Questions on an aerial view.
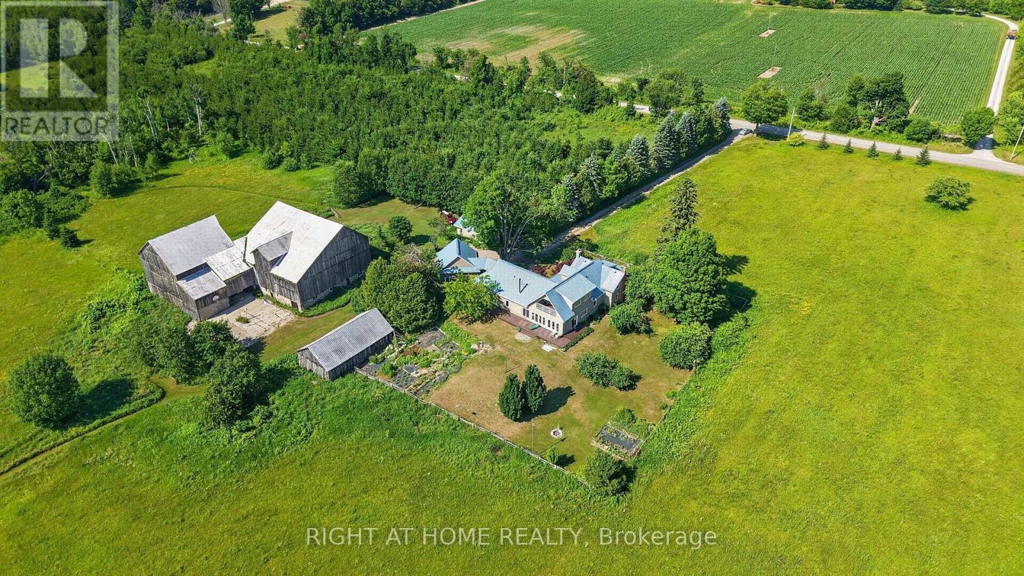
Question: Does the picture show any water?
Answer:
No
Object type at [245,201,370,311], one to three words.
barn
